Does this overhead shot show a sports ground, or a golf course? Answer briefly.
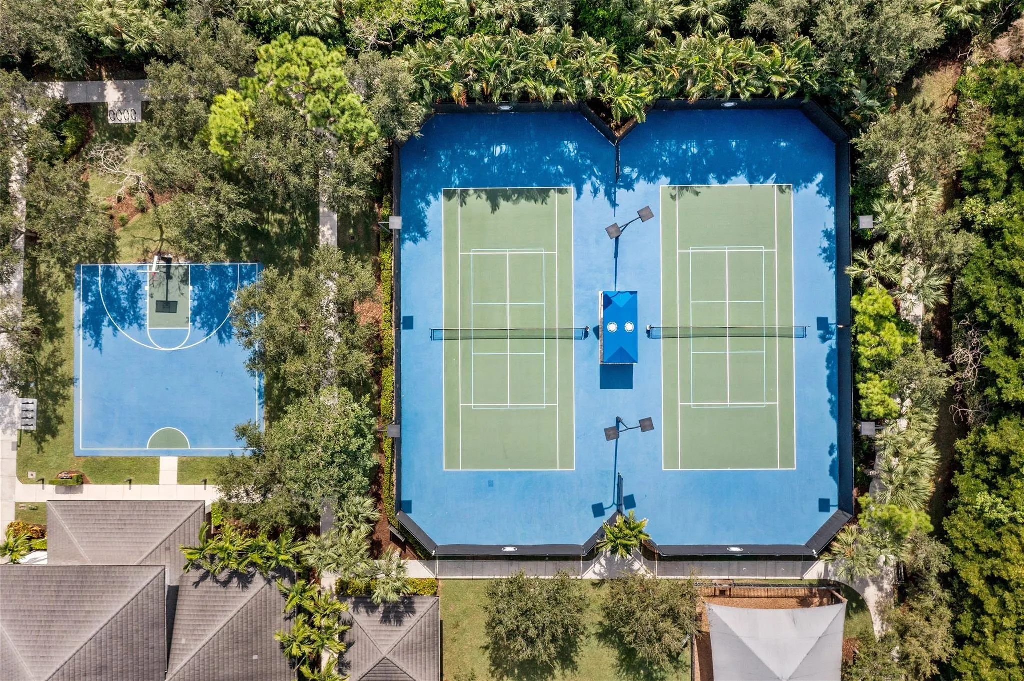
sports ground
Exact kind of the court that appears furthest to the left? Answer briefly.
basketball court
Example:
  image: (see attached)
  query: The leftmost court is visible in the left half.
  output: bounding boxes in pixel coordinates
[74,261,264,456]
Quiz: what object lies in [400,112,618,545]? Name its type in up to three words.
tennis court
